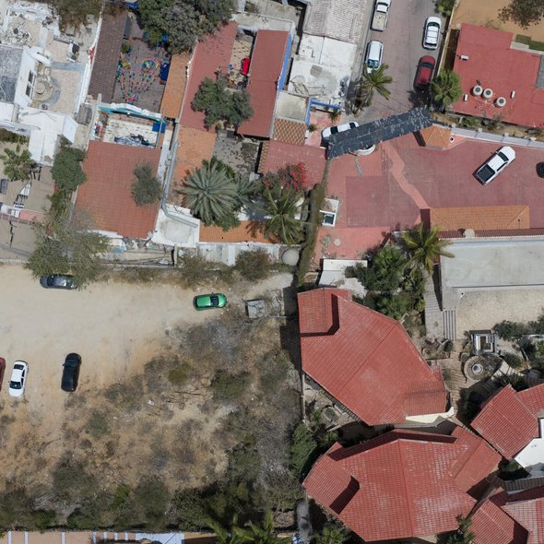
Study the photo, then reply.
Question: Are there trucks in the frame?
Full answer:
Yes, there's a truck here.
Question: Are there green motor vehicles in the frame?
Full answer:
Yes, you can see a green motor vehicle in this photo.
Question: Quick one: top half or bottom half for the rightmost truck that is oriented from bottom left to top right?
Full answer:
You can find the rightmost truck that is oriented from bottom left to top right in the top half.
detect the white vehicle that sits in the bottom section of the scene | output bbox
[8,361,30,396]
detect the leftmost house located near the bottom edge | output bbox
[303,428,501,542]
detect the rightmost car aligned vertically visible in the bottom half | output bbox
[62,354,82,392]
